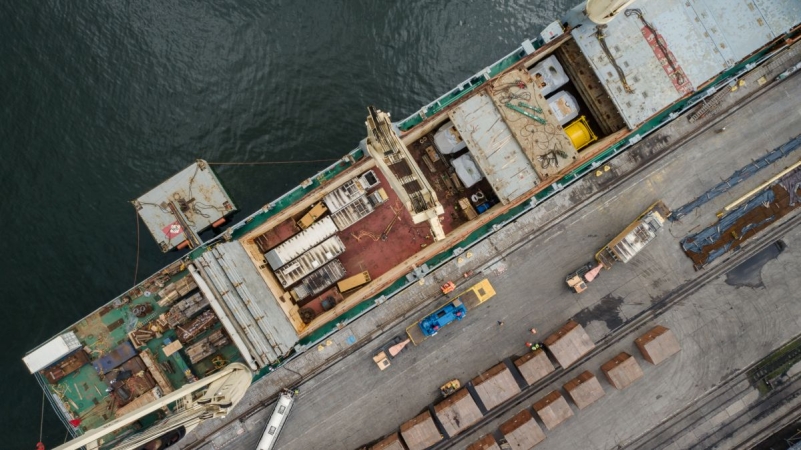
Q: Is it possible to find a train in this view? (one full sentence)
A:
No, there isn't any train down there.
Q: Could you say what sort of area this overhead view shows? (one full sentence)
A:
This image shows a port.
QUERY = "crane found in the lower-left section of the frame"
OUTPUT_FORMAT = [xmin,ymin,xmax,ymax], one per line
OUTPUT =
[48,362,256,450]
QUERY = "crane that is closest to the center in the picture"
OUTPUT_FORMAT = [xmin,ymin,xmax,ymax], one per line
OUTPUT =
[364,103,447,240]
